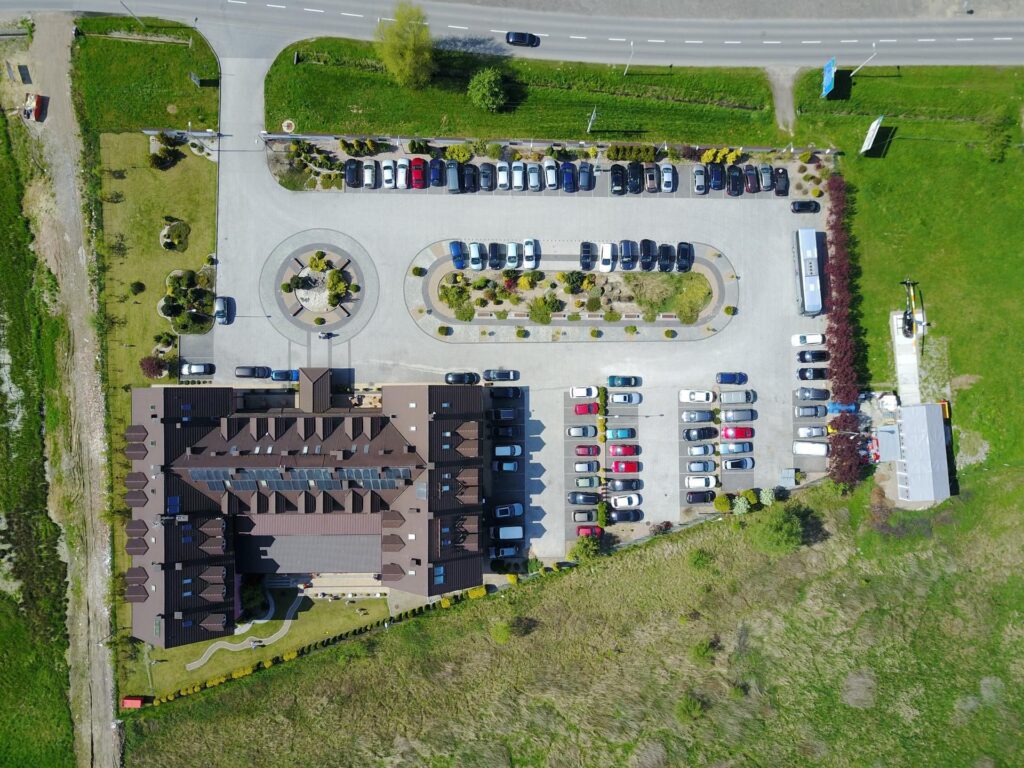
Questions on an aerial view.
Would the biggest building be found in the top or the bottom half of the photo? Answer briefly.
bottom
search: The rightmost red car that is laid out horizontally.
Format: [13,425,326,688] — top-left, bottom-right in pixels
[721,426,752,440]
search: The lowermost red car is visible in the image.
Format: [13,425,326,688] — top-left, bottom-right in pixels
[576,525,603,539]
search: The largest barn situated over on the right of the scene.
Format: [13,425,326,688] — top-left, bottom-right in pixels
[883,405,950,501]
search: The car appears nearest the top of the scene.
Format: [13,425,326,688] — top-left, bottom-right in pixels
[506,32,537,50]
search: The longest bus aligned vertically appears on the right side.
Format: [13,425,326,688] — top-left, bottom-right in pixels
[796,229,824,315]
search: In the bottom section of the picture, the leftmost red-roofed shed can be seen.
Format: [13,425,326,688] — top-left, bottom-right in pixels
[123,694,148,709]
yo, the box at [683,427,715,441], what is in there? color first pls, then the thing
black car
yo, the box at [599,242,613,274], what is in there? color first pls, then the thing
white car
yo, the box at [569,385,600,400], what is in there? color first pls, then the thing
white car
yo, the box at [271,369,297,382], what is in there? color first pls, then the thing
blue vehicle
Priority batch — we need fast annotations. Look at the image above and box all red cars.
[612,460,639,473]
[721,426,752,440]
[573,402,600,415]
[575,444,600,457]
[610,444,638,457]
[576,525,603,539]
[411,158,426,190]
